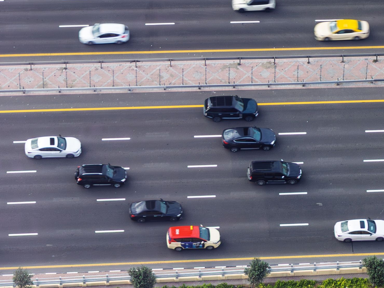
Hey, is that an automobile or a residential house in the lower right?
automobile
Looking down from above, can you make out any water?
No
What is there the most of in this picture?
paved ground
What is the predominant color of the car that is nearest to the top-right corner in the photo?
white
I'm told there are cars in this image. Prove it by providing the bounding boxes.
[72,163,128,189]
[315,18,369,41]
[128,197,184,223]
[79,22,129,45]
[334,217,384,243]
[221,125,278,152]
[25,134,82,160]
[165,225,222,253]
[246,160,303,187]
[232,0,275,13]
[203,96,258,122]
